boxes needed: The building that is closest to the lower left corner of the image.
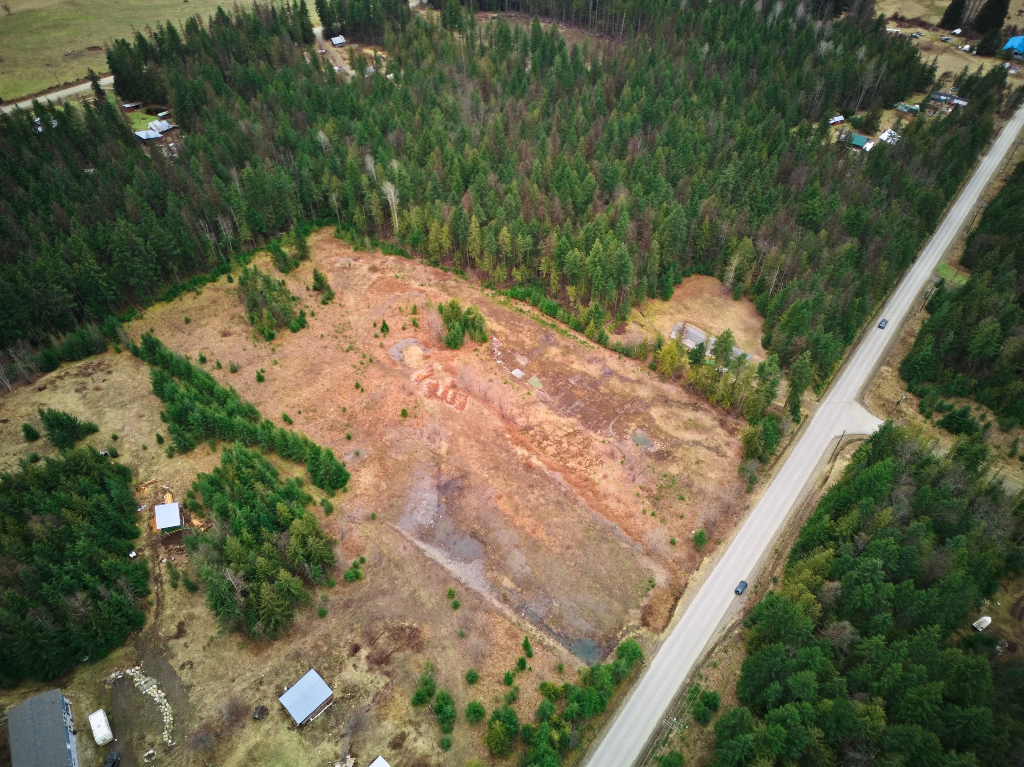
[7,689,84,767]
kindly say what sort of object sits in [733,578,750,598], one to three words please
car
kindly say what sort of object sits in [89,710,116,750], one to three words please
trailer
